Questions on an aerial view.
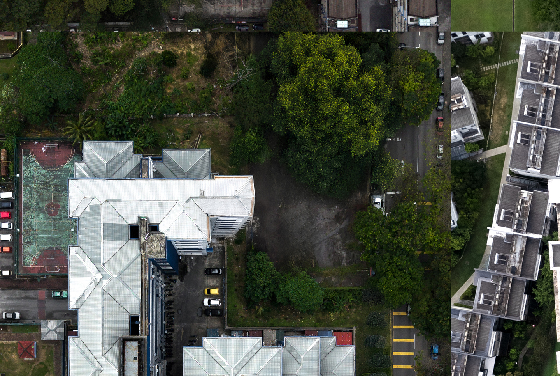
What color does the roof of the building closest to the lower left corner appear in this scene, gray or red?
red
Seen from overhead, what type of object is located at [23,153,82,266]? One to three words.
sports court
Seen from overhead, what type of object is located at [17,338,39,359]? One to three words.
building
